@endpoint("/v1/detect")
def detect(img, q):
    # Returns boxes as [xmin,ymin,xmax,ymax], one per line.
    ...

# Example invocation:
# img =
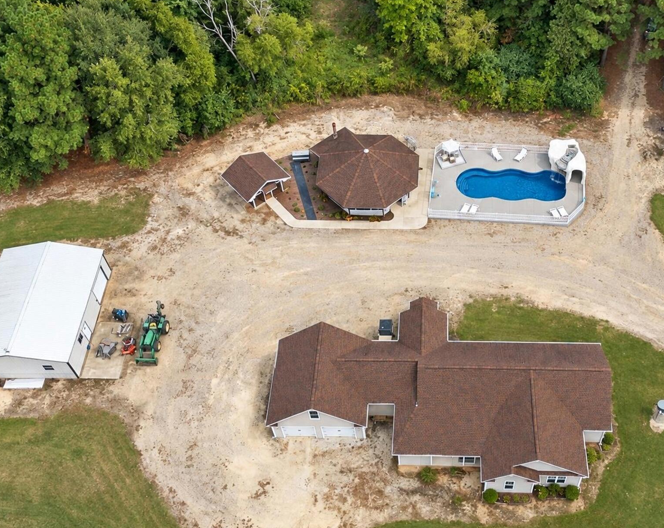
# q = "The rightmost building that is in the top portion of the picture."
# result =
[308,118,422,218]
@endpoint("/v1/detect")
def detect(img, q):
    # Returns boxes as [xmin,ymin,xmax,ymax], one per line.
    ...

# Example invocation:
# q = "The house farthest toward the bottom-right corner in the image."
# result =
[265,297,613,493]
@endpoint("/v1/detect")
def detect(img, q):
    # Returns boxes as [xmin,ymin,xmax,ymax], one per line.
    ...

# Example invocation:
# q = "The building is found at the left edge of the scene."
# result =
[0,241,114,379]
